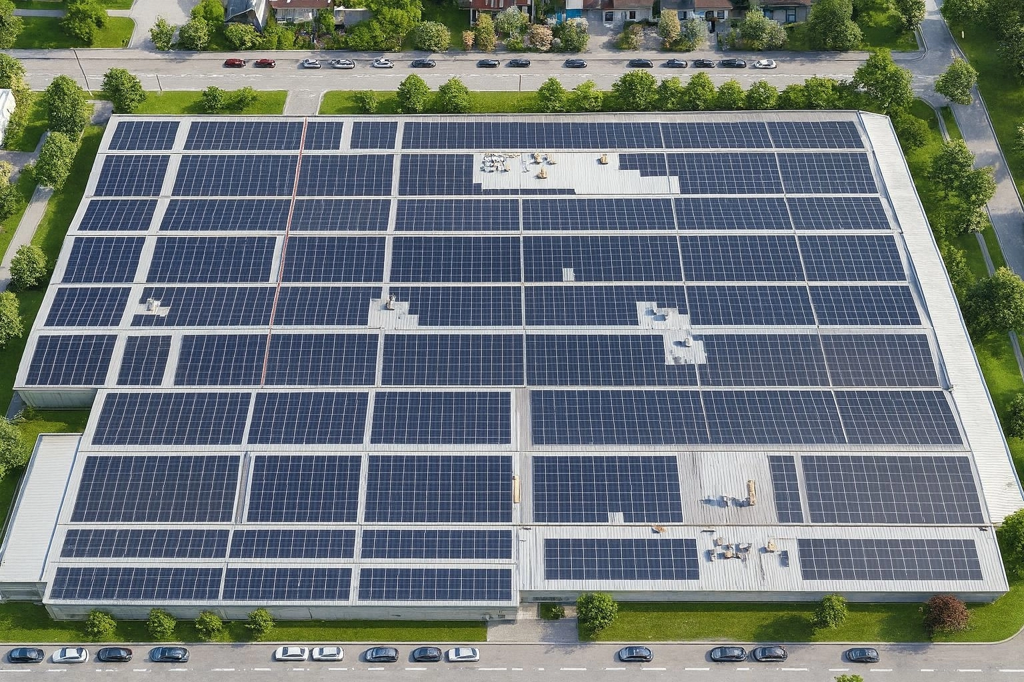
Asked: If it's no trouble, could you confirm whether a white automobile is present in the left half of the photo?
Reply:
Yes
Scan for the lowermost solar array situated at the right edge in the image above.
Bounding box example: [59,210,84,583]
[798,538,984,579]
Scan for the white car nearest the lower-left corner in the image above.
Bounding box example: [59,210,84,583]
[51,646,90,665]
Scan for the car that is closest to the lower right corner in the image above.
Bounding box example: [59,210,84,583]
[845,647,882,665]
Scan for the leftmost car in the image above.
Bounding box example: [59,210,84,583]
[6,646,47,665]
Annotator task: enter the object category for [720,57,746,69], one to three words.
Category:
vehicle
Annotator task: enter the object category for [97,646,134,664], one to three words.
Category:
car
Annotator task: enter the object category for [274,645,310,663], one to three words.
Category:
car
